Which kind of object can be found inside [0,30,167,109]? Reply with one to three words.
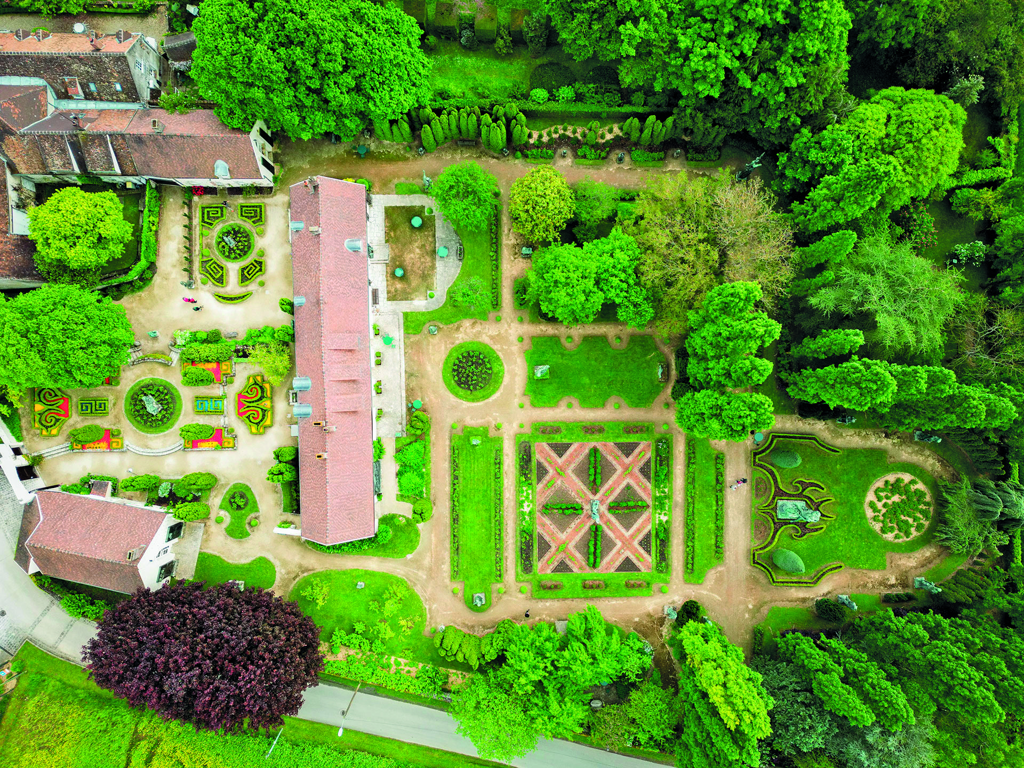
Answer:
house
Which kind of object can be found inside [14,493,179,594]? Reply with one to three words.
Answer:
house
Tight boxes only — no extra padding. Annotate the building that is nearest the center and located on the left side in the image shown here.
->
[289,175,378,546]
